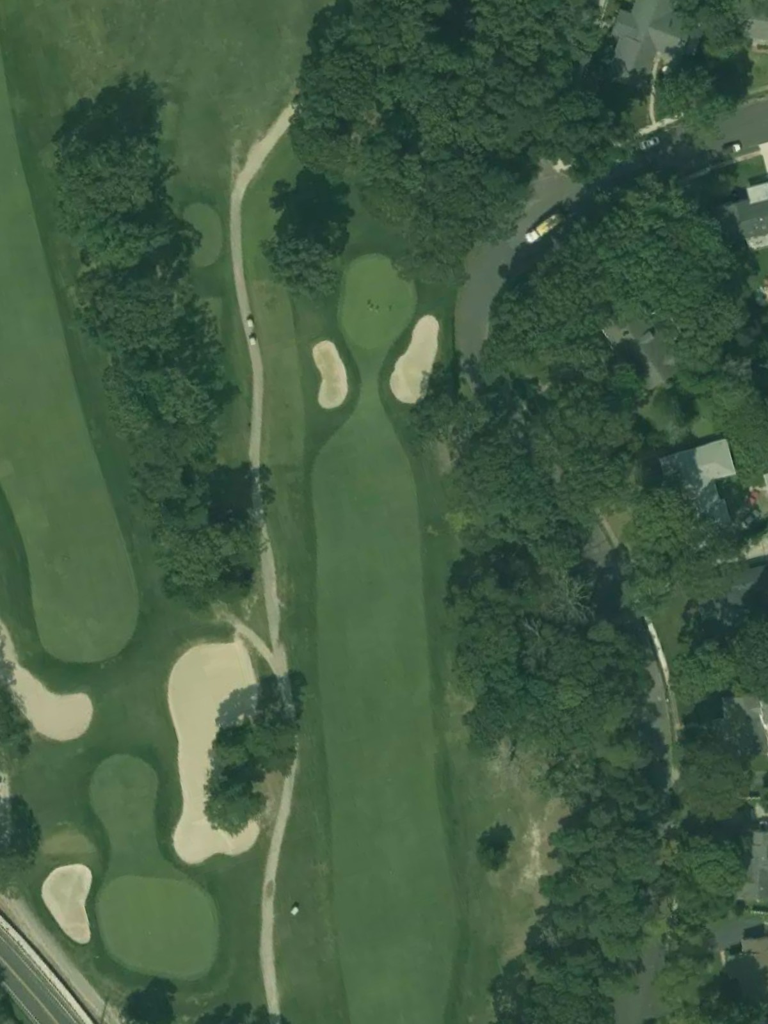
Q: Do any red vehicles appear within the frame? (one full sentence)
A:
No, the picture doesn't show any red vehicle.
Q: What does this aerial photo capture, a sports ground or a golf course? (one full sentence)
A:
The area seen from above is a golf course.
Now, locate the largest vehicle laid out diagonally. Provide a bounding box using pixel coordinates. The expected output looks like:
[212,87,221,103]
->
[526,214,562,241]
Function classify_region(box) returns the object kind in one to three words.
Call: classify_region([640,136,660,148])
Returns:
vehicle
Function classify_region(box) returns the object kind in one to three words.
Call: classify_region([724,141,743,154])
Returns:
vehicle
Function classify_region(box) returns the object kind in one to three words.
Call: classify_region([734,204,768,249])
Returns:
house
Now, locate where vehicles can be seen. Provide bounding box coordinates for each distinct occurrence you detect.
[250,336,257,347]
[291,904,299,914]
[640,136,660,148]
[724,141,743,154]
[526,214,562,241]
[247,319,254,329]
